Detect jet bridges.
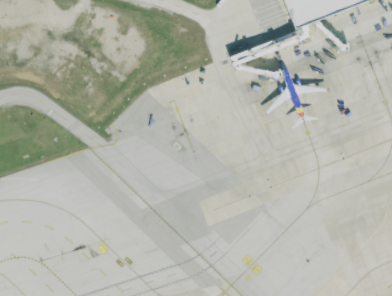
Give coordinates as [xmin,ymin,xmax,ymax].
[234,64,285,78]
[316,21,352,52]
